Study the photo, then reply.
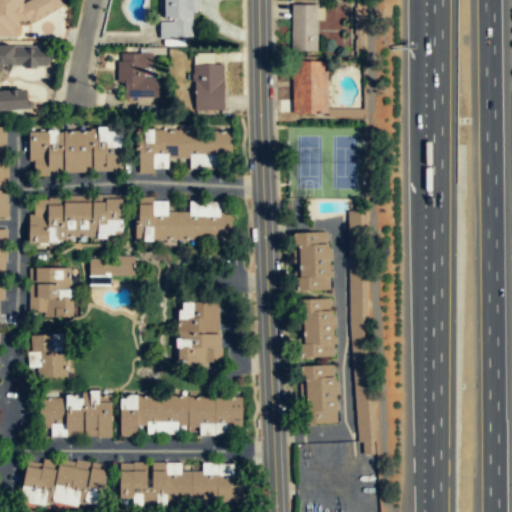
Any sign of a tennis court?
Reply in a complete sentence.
Yes, there is a tennis court in the image.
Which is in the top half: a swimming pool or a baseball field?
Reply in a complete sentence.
The one visible in the top half is a swimming pool.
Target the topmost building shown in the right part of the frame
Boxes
[293,4,326,52]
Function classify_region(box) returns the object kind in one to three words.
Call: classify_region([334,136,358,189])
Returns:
tennis court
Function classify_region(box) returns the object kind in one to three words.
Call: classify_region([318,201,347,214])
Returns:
swimming pool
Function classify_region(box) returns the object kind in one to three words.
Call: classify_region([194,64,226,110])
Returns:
house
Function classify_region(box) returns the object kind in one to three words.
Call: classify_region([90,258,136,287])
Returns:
building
